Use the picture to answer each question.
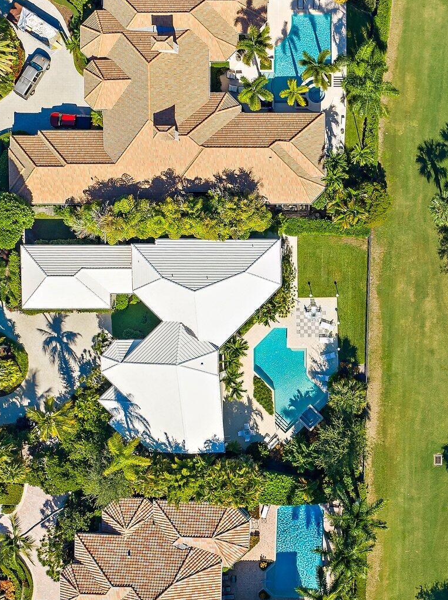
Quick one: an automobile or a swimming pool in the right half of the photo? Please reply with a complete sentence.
Visible in the right half of the photo is a swimming pool.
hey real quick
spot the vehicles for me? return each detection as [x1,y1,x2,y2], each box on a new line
[49,111,92,130]
[14,51,53,102]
